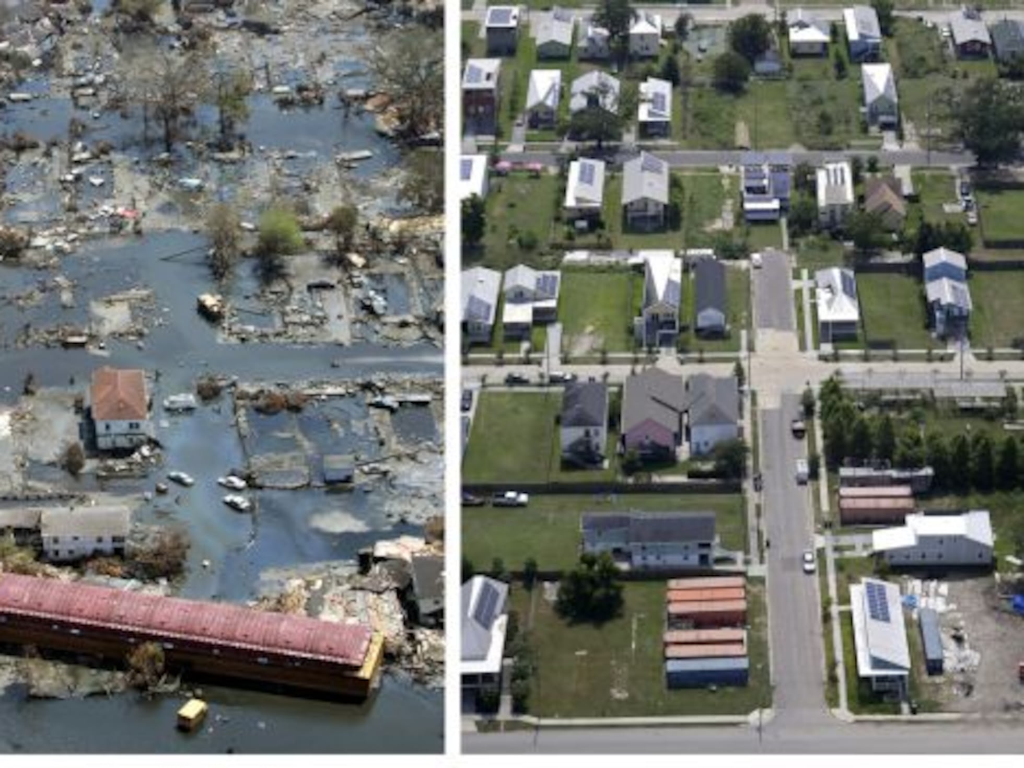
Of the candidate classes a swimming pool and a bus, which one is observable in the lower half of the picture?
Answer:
bus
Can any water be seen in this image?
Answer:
Yes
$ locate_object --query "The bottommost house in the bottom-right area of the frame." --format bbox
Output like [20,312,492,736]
[846,576,909,715]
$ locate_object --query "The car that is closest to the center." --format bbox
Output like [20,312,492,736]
[505,374,530,386]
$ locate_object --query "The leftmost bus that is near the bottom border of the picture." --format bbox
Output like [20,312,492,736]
[178,700,211,732]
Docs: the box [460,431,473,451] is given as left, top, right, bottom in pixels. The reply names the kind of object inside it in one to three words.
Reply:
vehicle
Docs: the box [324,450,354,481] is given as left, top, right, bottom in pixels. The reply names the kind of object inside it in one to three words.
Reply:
shed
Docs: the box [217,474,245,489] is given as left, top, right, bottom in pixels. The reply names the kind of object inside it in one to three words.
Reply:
car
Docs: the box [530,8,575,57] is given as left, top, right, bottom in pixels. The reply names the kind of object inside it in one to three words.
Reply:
house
